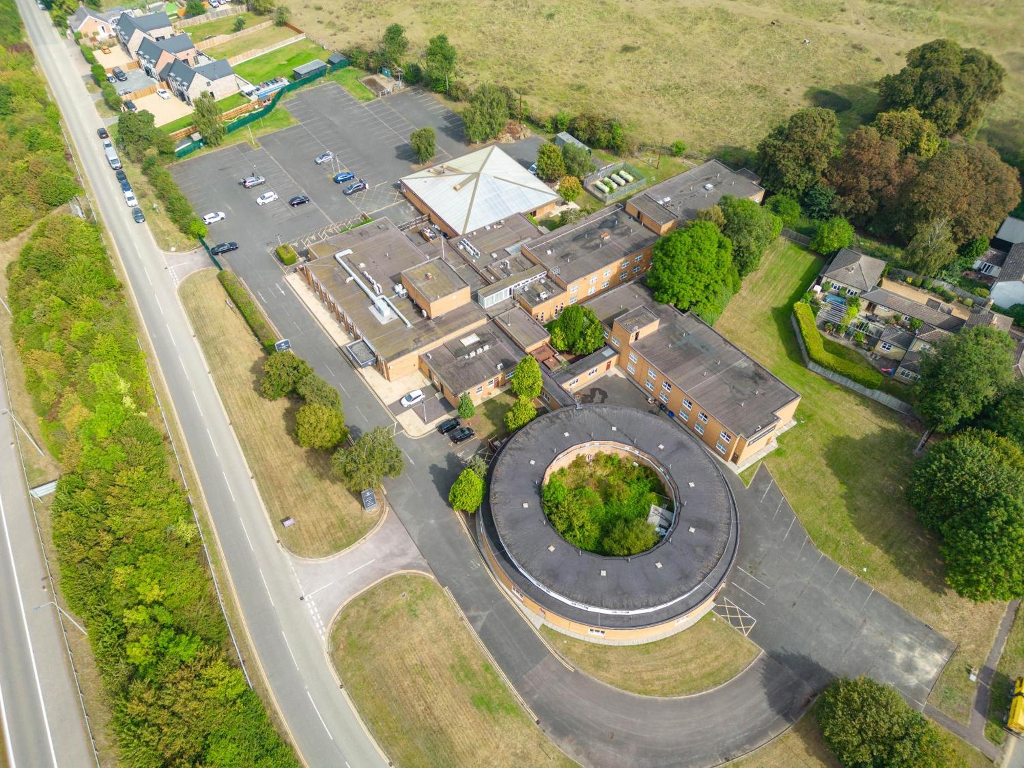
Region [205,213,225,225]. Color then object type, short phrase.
white vehicle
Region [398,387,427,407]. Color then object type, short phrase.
white car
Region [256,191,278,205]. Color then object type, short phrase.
white car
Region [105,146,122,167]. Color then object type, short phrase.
white vehicle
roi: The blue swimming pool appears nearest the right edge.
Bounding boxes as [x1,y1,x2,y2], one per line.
[821,291,848,309]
